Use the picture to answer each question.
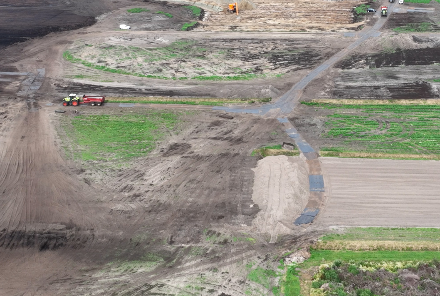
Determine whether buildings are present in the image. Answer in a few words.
No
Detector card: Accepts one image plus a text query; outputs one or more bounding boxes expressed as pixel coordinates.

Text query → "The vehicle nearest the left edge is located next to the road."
[62,94,81,106]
